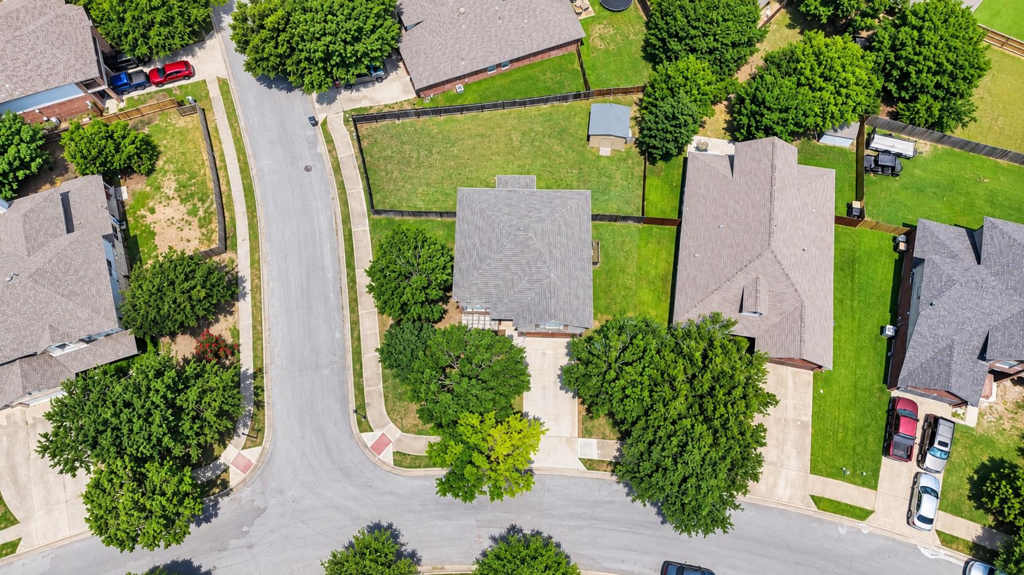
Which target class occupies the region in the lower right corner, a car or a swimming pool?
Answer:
car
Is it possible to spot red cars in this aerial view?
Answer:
Yes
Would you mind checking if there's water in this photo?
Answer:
No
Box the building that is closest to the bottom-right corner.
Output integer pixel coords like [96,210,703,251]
[889,216,1024,407]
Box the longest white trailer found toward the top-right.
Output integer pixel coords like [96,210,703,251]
[871,126,925,158]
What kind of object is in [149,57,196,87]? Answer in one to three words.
car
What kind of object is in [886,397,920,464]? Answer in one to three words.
truck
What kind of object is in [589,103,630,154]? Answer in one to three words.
shed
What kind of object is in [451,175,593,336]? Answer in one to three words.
house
